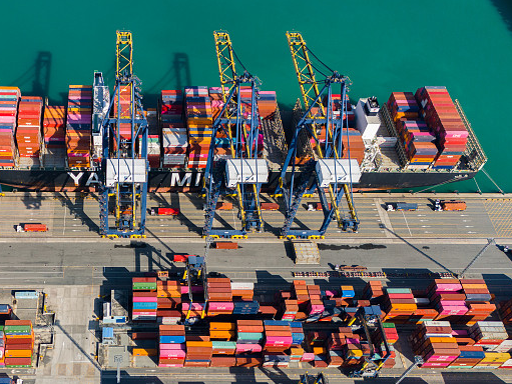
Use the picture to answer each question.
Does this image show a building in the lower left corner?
Yes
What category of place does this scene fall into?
port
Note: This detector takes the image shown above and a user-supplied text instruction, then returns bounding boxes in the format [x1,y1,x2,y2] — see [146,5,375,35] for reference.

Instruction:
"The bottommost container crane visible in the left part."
[181,254,209,322]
